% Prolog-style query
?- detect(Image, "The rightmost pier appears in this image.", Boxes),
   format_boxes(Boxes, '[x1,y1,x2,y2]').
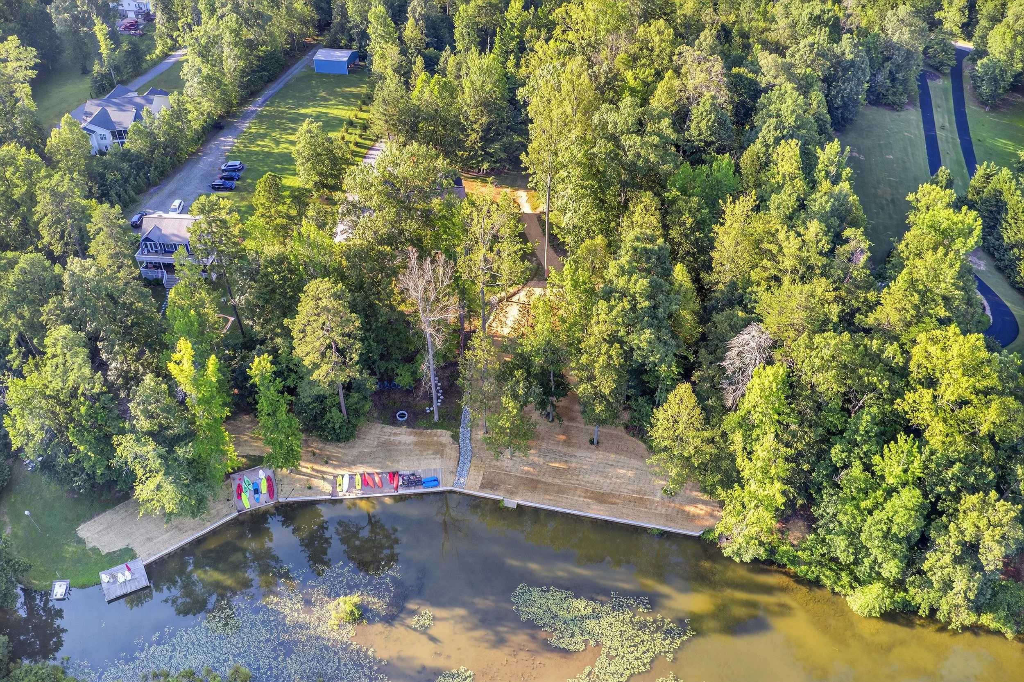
[99,557,153,606]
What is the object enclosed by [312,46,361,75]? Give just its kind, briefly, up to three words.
shed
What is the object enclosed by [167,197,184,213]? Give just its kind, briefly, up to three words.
car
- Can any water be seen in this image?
Yes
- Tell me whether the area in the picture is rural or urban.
rural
